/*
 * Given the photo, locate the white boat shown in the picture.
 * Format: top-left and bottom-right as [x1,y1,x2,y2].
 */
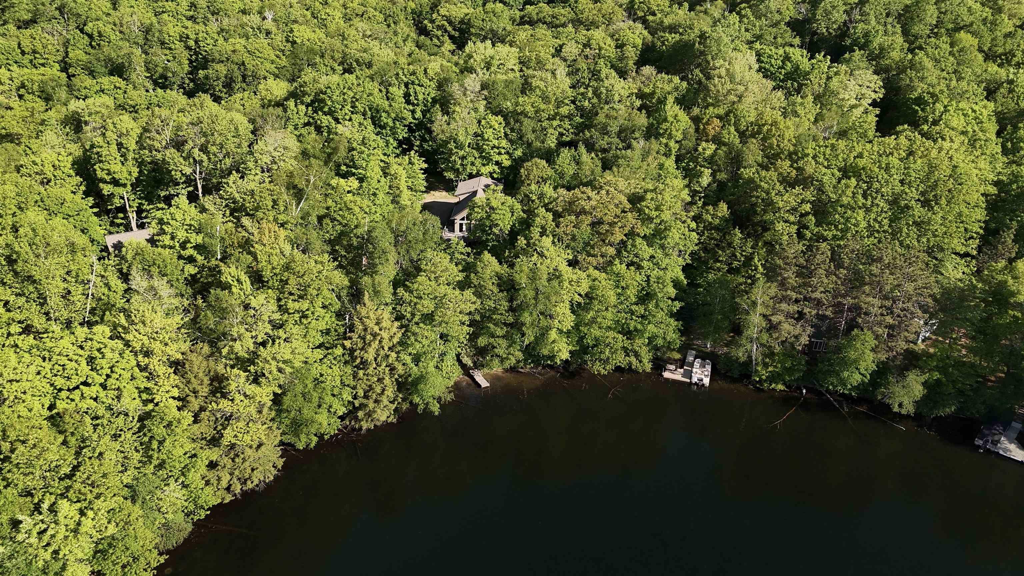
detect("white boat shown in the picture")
[692,359,711,392]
